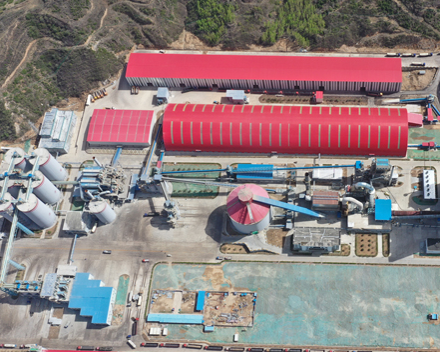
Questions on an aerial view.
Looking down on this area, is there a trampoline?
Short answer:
No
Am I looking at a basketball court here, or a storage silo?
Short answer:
storage silo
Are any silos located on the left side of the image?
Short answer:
Yes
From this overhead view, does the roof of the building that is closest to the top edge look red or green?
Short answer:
red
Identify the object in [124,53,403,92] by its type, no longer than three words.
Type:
building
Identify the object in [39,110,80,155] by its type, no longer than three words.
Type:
building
